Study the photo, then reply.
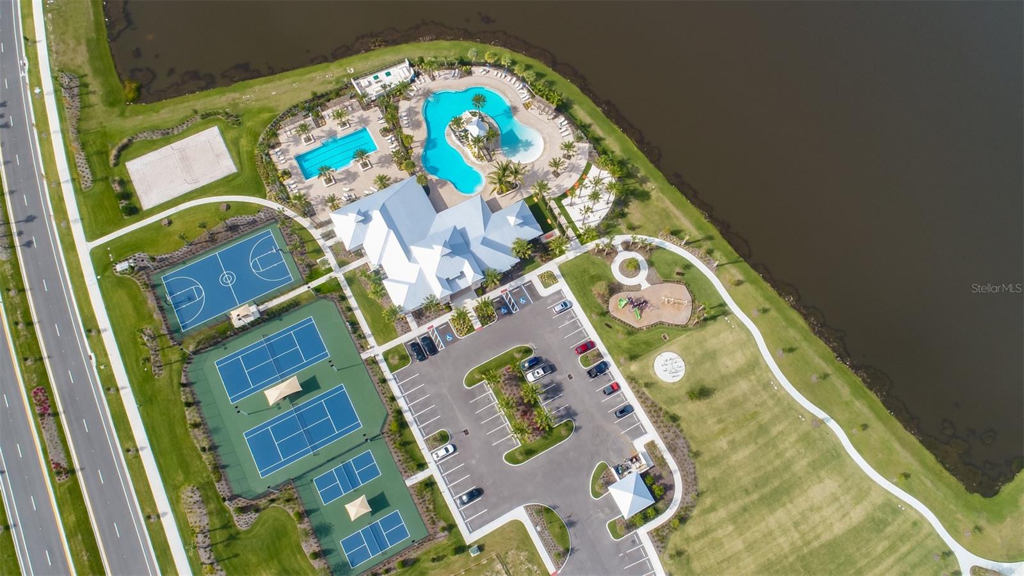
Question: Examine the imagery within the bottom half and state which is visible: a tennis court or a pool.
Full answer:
You can see a tennis court within the bottom half.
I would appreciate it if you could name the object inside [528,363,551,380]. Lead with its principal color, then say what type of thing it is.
white vehicle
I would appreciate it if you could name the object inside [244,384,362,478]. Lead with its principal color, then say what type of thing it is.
blue tennis court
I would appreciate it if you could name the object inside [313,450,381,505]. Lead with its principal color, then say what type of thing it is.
blue sports court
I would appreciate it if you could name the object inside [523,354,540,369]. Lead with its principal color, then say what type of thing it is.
blue car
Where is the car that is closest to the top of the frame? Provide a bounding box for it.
[554,300,573,313]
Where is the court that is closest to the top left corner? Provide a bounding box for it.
[125,126,238,211]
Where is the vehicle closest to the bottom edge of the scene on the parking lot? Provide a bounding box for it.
[460,488,481,504]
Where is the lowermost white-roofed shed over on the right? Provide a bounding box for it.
[607,473,655,516]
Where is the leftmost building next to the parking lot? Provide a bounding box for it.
[329,175,543,314]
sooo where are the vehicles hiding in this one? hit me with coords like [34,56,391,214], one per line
[523,354,540,369]
[528,363,551,380]
[460,488,481,504]
[600,380,624,397]
[421,335,436,355]
[586,361,610,377]
[433,444,454,460]
[554,300,573,313]
[576,340,595,354]
[410,341,425,360]
[615,403,635,418]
